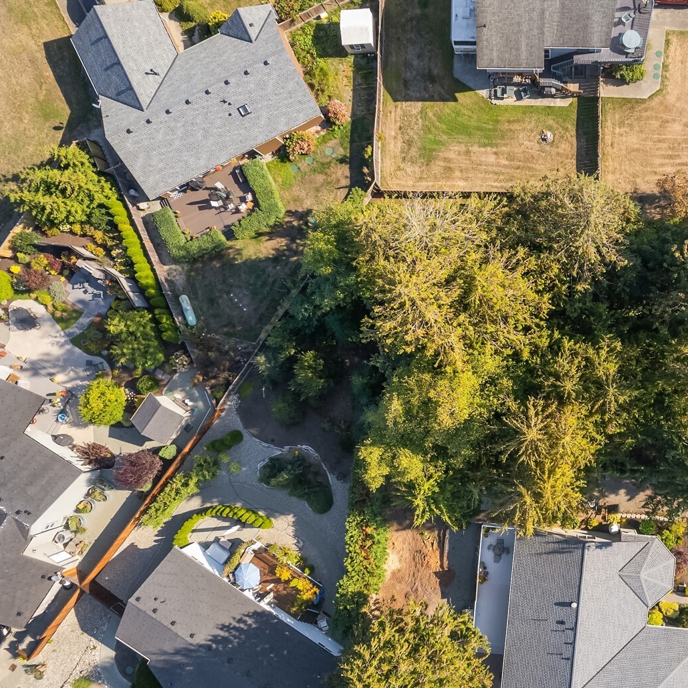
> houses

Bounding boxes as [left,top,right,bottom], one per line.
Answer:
[115,543,346,688]
[70,0,326,202]
[501,527,688,688]
[0,373,99,629]
[474,0,615,93]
